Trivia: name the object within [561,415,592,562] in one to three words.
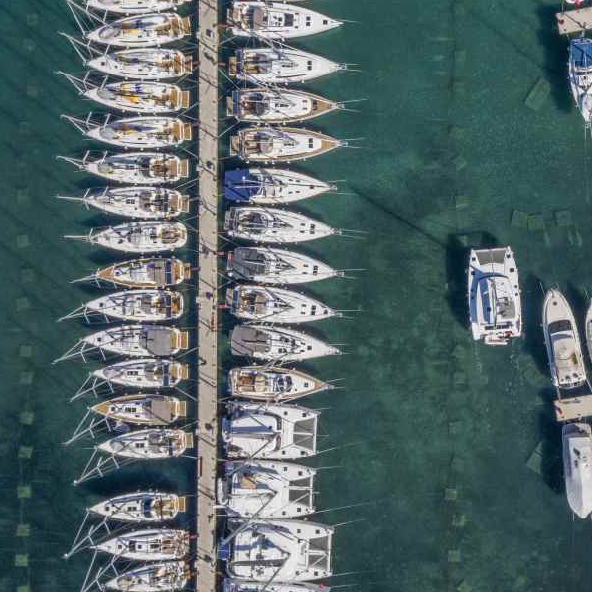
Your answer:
boat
